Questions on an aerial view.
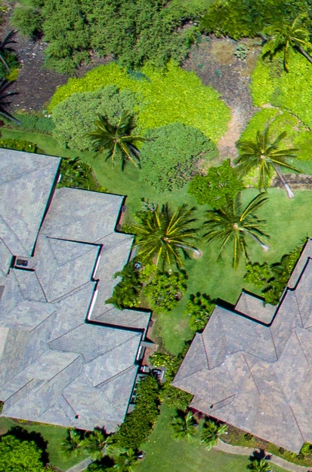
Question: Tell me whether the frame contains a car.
No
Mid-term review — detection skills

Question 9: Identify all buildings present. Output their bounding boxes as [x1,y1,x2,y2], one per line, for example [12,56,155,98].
[171,239,312,455]
[0,147,154,435]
